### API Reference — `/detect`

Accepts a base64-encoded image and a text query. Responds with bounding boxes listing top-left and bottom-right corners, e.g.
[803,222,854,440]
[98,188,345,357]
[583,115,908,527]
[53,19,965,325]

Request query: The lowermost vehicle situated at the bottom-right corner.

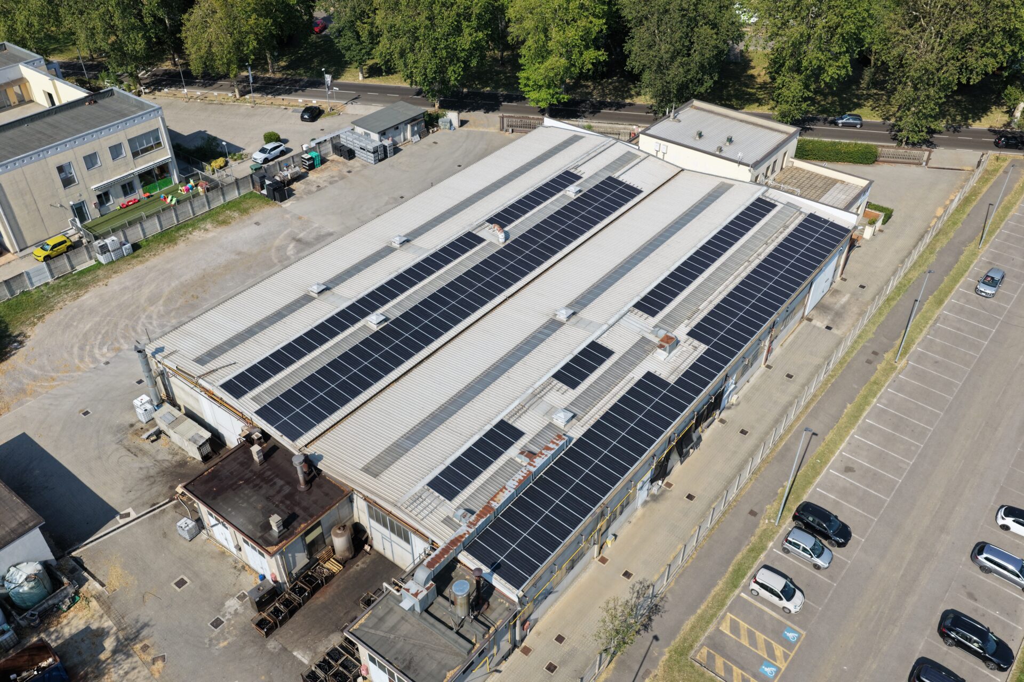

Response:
[905,651,971,682]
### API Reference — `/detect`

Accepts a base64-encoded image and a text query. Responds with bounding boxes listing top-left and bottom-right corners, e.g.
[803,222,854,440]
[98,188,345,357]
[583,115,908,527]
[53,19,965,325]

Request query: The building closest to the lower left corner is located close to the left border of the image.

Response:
[0,479,59,581]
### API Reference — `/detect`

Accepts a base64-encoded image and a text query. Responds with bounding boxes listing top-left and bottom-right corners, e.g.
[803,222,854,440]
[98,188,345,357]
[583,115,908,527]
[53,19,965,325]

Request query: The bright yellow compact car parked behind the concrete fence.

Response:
[33,230,77,259]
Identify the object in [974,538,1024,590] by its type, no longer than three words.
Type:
car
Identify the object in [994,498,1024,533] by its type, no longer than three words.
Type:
car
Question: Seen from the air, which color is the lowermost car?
black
